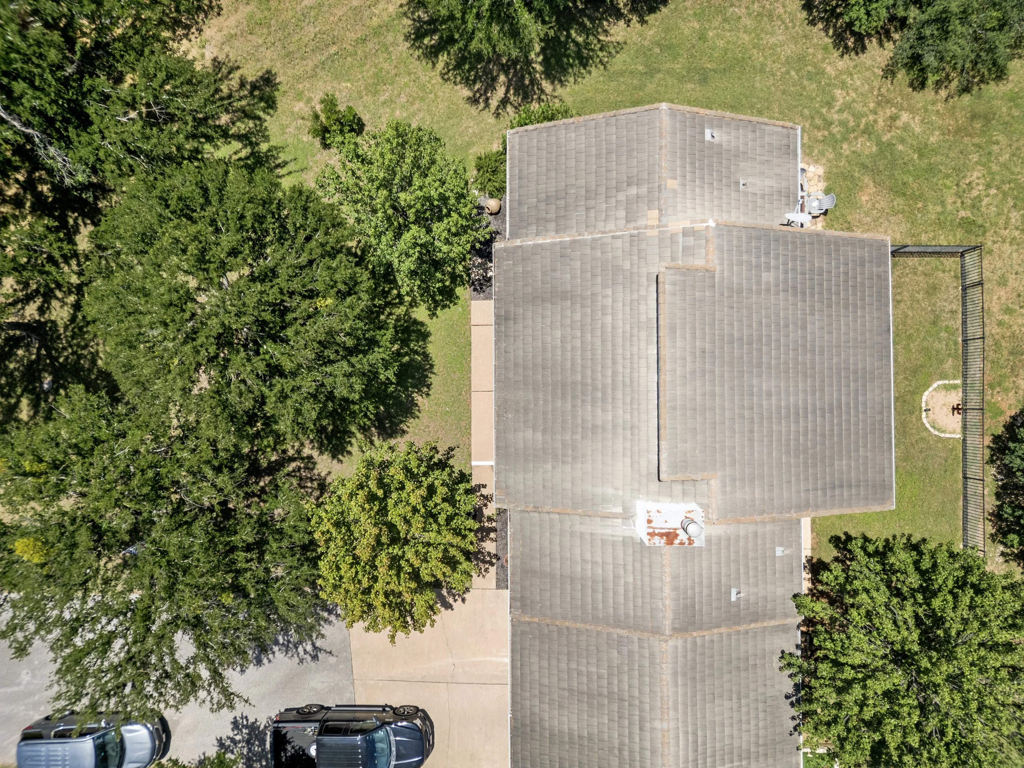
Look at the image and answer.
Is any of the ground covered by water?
No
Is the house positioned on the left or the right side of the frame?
right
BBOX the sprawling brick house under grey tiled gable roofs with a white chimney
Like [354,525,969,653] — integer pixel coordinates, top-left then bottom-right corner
[492,103,896,768]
